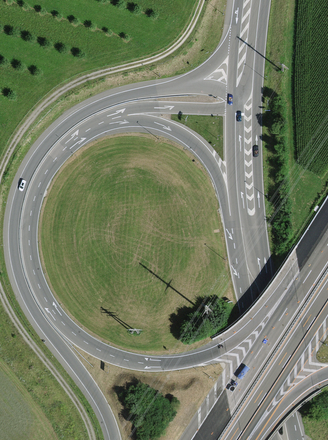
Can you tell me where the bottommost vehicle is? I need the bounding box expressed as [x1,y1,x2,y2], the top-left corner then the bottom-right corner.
[233,363,250,386]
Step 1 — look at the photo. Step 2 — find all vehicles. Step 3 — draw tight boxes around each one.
[236,110,241,120]
[228,94,232,104]
[18,179,26,190]
[253,144,258,156]
[233,363,250,386]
